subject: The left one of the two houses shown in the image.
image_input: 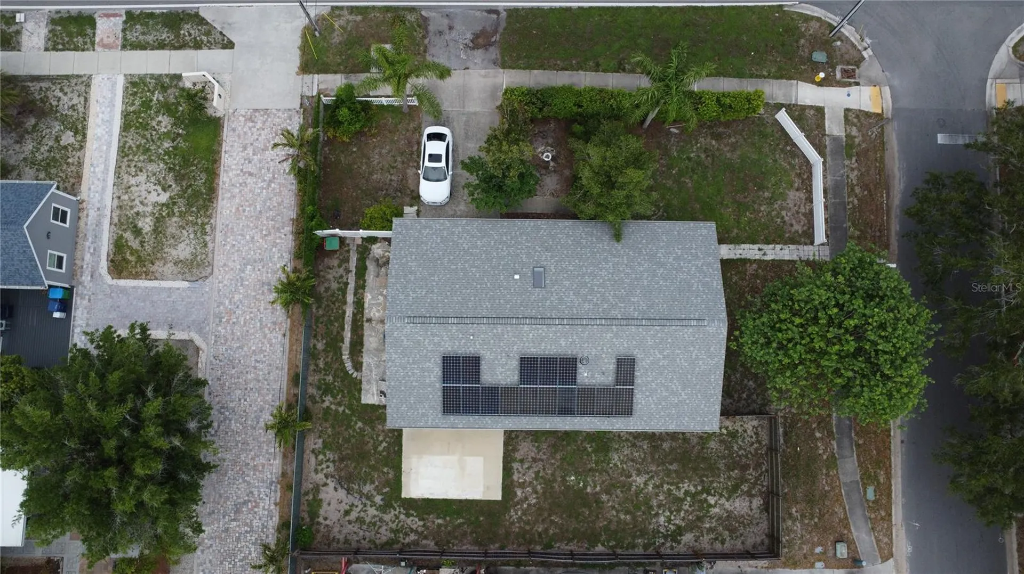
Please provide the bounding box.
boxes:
[0,179,80,291]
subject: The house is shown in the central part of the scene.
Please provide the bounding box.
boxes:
[385,217,726,431]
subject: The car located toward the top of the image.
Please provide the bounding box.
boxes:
[418,127,453,205]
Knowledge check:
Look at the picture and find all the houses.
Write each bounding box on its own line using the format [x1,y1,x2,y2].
[0,179,80,291]
[385,217,726,431]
